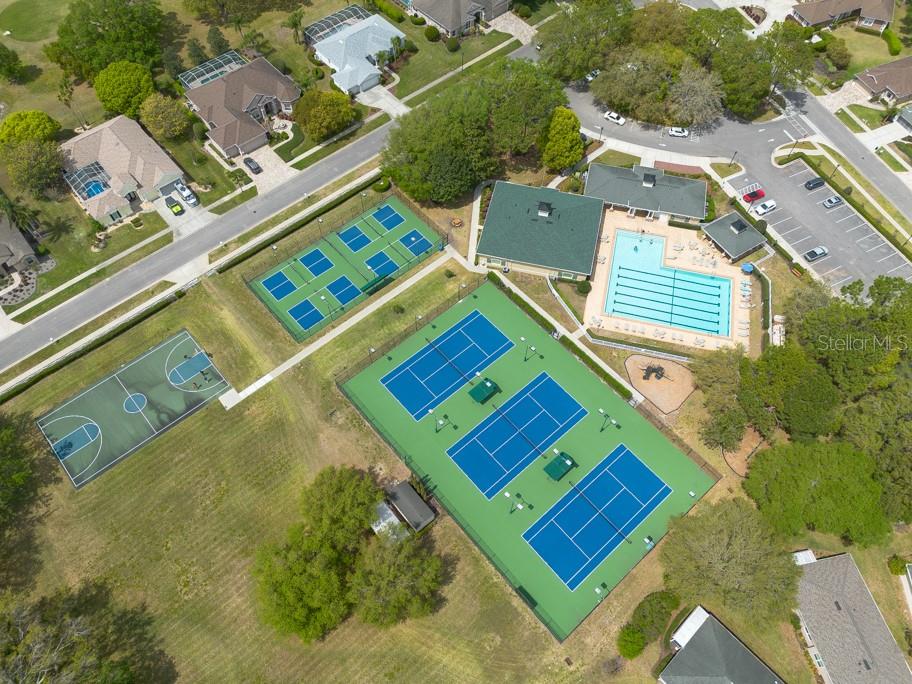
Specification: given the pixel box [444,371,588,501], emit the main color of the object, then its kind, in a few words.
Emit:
blue tennis court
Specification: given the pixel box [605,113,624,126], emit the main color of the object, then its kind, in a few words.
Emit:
white vehicle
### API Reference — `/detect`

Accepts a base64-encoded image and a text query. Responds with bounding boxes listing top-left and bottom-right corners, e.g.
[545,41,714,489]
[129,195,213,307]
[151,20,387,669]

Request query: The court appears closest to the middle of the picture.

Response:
[378,309,515,421]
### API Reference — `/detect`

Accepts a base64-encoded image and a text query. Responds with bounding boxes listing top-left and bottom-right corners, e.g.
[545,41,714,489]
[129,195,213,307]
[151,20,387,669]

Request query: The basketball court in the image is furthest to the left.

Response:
[32,327,231,490]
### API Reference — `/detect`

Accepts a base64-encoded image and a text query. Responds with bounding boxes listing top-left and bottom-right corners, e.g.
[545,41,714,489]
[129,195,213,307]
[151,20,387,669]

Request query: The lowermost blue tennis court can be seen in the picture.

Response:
[519,444,671,592]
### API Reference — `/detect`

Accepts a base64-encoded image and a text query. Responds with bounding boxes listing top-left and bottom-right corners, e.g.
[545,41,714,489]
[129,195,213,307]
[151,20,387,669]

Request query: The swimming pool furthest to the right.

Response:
[601,229,733,339]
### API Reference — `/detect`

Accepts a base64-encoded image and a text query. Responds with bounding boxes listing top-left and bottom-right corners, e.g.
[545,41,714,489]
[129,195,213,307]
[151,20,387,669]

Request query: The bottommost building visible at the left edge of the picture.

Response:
[0,202,42,293]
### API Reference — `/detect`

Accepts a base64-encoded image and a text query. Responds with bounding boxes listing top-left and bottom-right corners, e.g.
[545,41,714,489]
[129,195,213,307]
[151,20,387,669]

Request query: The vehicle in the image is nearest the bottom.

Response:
[801,248,828,264]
